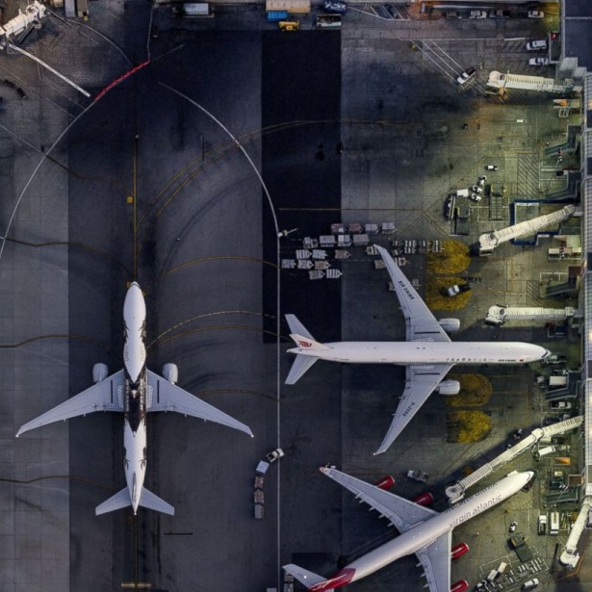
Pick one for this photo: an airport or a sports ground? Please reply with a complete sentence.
This looks like an airport.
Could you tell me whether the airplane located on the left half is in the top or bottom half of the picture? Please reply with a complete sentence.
The bottom half of the photo is where the airplane located on the left half is.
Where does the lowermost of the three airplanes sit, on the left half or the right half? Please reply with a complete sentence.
The lowermost of the three airplanes sits on the right side.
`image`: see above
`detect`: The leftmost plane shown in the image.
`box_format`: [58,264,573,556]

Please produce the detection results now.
[16,284,253,516]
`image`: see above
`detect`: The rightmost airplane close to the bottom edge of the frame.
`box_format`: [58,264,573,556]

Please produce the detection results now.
[283,467,532,592]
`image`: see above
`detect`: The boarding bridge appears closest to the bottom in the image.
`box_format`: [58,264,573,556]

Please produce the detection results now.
[559,497,592,574]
